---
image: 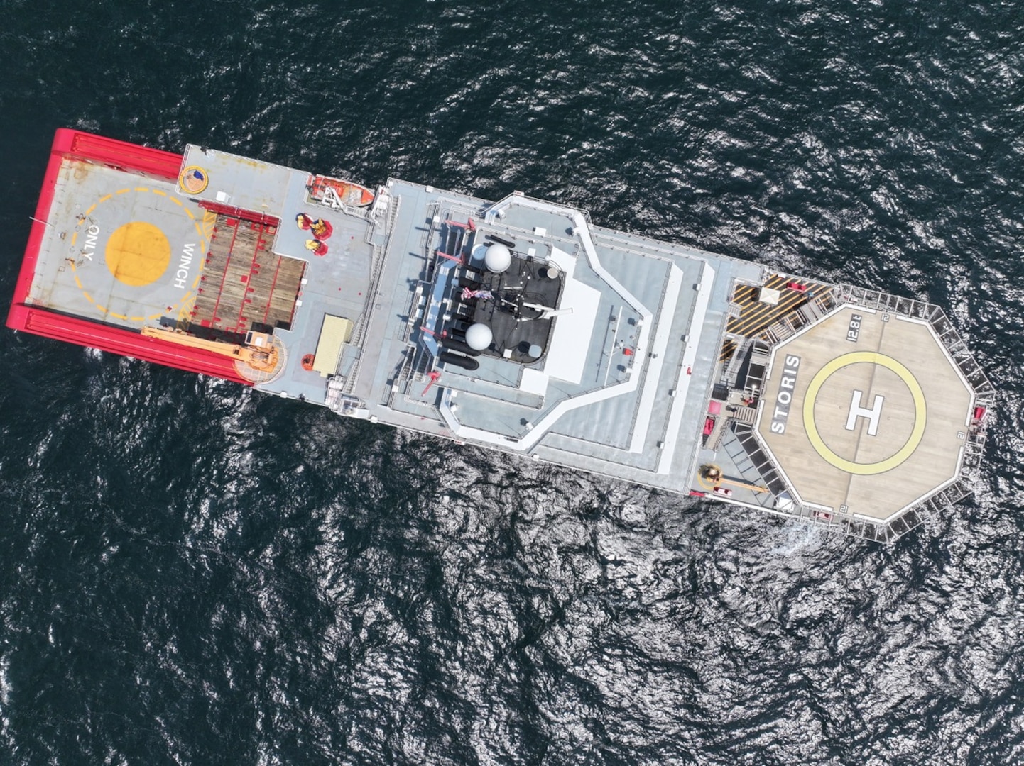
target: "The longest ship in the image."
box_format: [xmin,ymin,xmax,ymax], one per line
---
[8,128,995,543]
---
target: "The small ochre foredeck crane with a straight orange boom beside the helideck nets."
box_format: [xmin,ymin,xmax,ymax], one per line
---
[698,465,772,494]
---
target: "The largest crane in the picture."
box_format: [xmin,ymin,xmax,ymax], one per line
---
[140,322,287,385]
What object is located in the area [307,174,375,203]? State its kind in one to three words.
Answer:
boat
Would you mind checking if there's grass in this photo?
No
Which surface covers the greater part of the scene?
water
